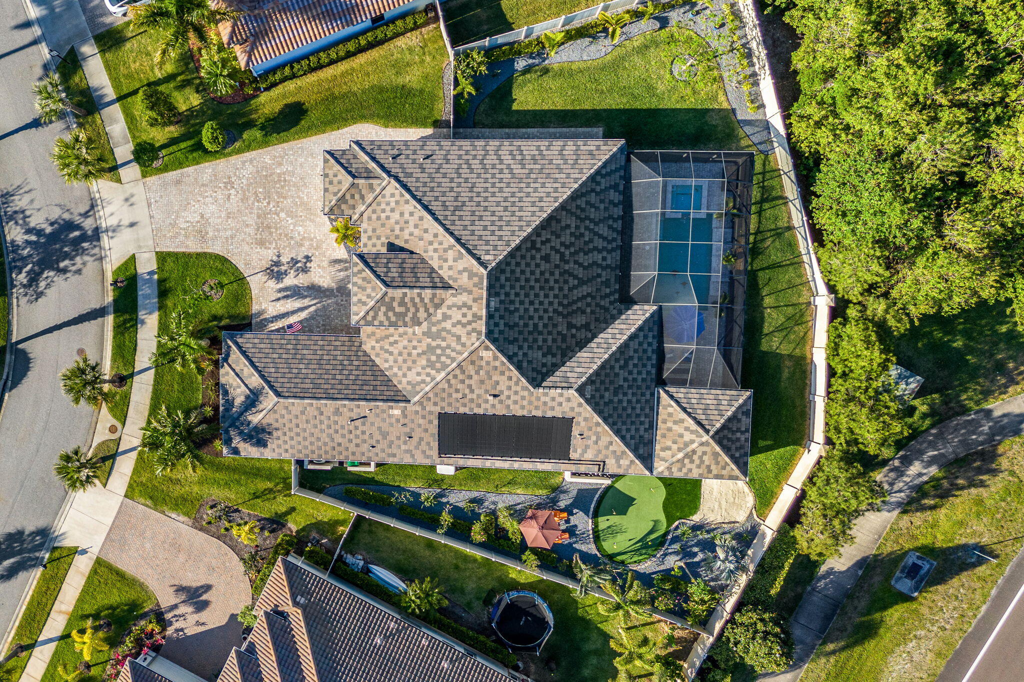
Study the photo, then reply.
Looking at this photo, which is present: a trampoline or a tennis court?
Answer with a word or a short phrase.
trampoline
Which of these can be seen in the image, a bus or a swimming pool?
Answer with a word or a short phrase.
swimming pool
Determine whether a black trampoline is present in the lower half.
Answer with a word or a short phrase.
Yes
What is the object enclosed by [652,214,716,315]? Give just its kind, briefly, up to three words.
swimming pool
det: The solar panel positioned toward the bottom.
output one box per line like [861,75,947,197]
[439,412,605,474]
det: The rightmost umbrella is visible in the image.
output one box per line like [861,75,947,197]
[664,303,705,344]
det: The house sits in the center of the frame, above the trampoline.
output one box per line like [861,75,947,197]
[218,138,754,481]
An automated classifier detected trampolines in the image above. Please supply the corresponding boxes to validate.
[493,585,554,656]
